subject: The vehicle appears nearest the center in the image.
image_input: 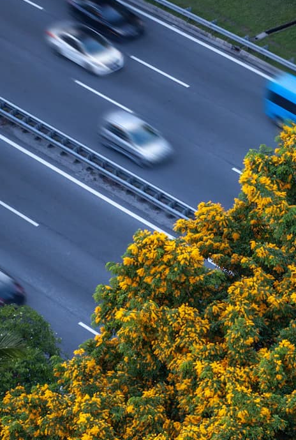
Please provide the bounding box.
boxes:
[99,112,170,167]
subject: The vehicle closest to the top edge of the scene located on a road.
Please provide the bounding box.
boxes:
[68,0,142,42]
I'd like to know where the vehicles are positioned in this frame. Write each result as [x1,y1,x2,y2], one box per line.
[45,27,120,79]
[68,0,142,42]
[266,73,296,122]
[99,112,170,167]
[0,266,29,311]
